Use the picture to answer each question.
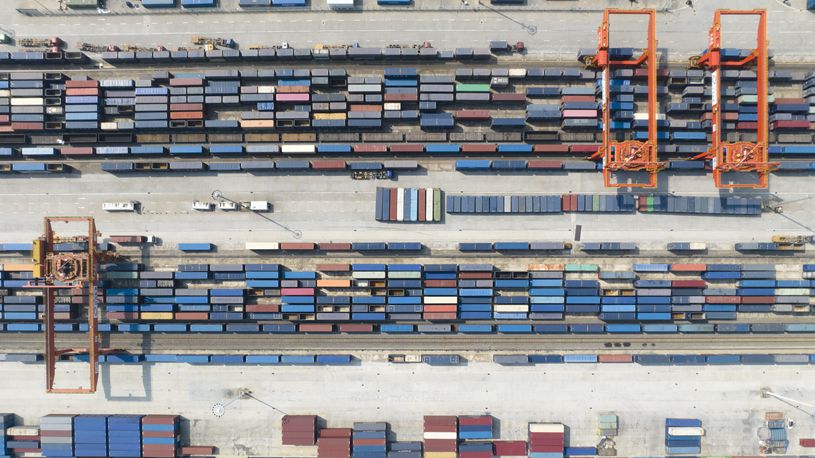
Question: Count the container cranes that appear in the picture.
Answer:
3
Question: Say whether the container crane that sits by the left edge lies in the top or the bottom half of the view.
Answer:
bottom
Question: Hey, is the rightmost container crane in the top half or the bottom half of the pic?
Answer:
top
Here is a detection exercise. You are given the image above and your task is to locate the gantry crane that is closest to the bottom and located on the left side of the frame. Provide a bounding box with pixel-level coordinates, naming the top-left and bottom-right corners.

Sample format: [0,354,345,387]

[22,217,121,393]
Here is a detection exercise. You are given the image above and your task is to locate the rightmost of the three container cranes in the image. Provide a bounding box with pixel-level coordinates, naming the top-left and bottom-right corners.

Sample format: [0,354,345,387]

[684,9,779,189]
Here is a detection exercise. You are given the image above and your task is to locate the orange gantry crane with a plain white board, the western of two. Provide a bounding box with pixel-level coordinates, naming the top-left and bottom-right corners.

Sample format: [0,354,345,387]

[580,7,668,188]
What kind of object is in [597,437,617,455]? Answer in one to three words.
vehicle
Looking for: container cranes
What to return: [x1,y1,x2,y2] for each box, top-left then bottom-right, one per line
[580,7,668,188]
[684,9,779,189]
[22,217,121,393]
